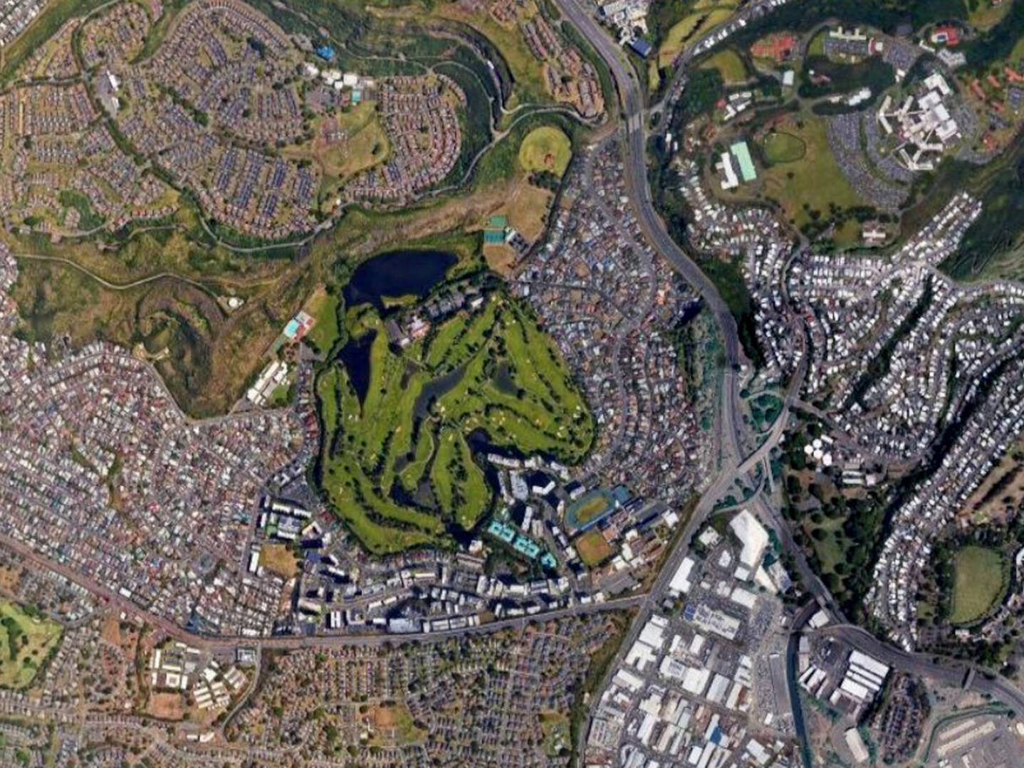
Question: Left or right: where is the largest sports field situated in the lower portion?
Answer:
right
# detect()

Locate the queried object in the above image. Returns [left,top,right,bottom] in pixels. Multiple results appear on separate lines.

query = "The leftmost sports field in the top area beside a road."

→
[504,189,554,235]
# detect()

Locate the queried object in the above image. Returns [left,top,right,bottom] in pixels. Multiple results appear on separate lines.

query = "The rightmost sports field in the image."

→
[951,547,1003,622]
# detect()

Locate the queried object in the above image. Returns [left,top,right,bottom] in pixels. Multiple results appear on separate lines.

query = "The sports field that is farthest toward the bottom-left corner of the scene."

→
[149,694,185,719]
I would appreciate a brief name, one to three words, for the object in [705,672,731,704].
building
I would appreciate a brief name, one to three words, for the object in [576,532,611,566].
sports field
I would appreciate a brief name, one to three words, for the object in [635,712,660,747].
building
